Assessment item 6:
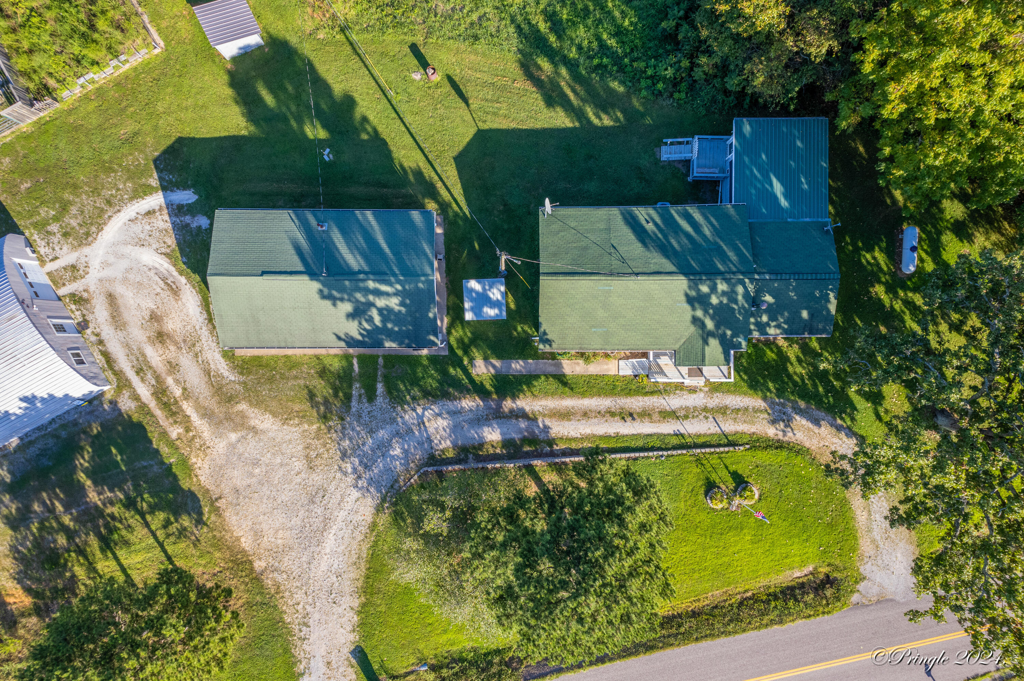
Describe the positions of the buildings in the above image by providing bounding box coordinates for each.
[0,233,113,449]
[207,207,455,350]
[532,117,841,367]
[463,278,506,321]
[189,0,265,61]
